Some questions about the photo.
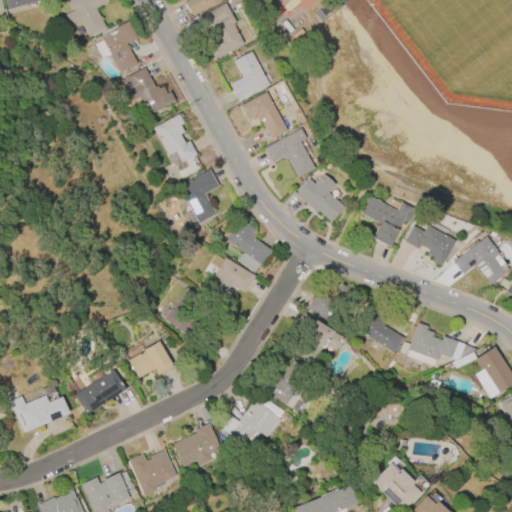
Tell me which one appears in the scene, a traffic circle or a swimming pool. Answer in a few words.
swimming pool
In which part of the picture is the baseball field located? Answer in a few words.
top right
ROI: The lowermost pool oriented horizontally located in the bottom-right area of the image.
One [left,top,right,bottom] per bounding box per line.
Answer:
[412,442,441,456]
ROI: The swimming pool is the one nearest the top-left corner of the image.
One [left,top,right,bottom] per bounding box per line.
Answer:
[101,58,118,78]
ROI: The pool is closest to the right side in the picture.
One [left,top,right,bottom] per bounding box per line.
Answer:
[448,374,474,394]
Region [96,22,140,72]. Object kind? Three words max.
house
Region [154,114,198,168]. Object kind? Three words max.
house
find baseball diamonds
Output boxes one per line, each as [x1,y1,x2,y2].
[367,0,512,110]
